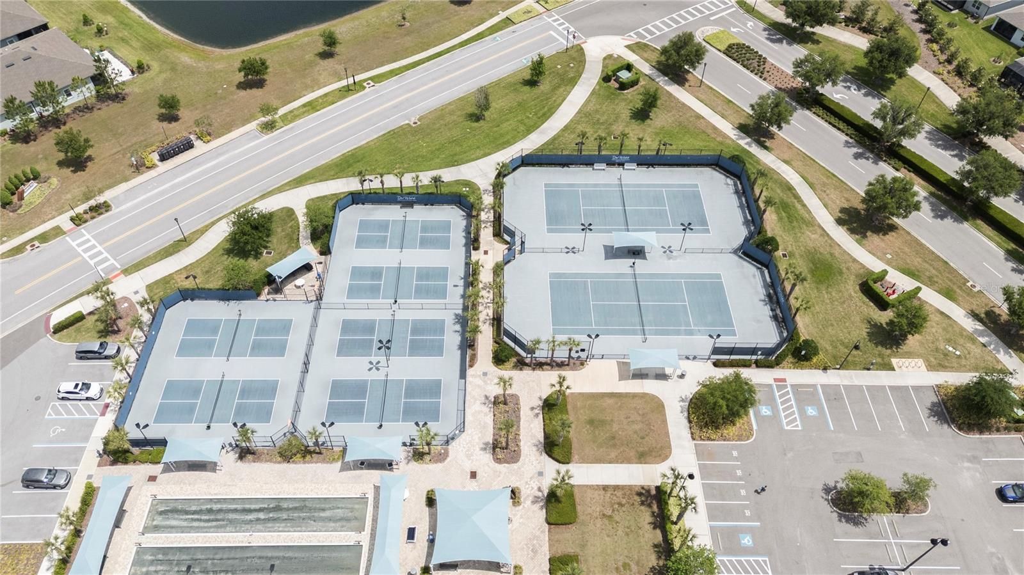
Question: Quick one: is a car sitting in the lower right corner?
Yes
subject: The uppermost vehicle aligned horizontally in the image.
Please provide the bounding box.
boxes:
[73,338,120,358]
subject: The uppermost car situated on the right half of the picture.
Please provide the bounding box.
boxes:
[996,483,1024,505]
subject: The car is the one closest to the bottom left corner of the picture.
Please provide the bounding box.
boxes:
[18,465,72,488]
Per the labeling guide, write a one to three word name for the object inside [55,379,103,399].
car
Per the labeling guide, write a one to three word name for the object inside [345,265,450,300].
sports court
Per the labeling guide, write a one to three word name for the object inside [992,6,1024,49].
house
